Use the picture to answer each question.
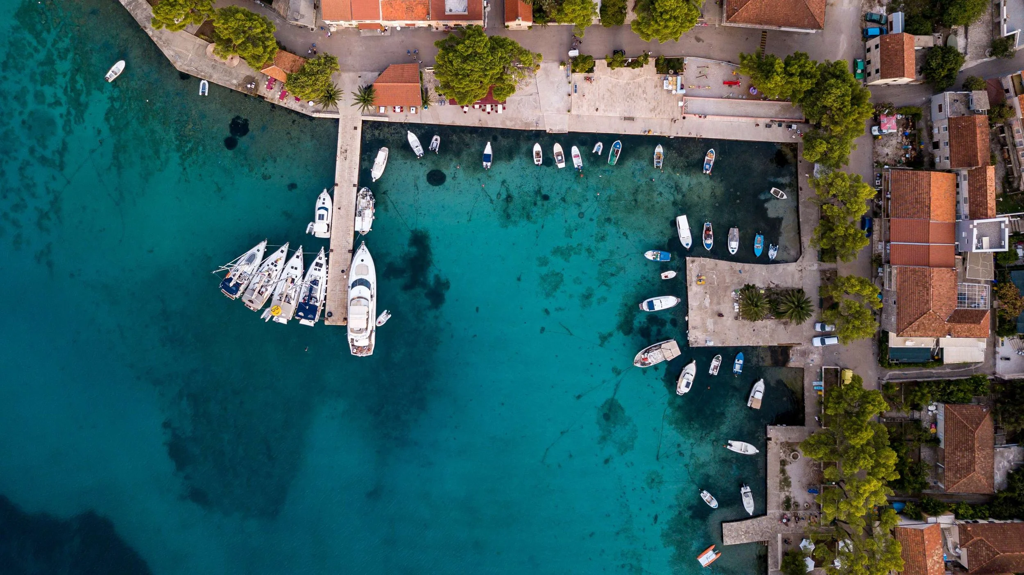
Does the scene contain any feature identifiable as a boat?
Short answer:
Yes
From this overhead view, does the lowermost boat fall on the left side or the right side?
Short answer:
right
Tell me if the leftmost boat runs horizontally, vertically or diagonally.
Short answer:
diagonally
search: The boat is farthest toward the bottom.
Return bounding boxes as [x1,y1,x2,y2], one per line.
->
[697,547,721,568]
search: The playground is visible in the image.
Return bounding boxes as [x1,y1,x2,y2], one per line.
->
[684,58,794,103]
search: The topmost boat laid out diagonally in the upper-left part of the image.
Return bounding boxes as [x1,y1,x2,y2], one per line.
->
[101,60,127,84]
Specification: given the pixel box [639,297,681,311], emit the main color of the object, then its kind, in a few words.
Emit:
white boat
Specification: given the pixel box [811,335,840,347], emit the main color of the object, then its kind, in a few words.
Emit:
white vehicle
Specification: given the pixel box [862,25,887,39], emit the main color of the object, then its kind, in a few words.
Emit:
blue car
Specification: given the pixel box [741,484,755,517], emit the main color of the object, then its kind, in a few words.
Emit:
white boat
